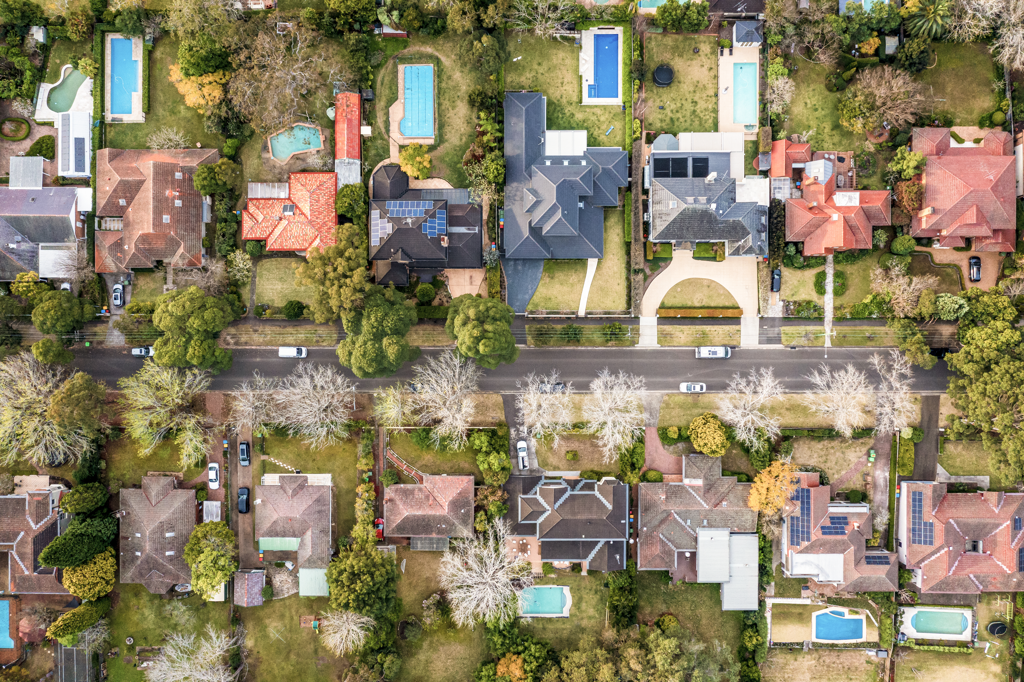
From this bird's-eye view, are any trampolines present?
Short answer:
Yes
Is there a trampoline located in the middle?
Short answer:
No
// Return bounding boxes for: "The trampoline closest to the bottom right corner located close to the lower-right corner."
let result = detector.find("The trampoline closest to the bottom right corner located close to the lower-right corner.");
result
[986,617,1015,642]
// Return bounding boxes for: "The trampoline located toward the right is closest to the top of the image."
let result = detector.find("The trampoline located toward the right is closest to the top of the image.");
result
[654,61,677,87]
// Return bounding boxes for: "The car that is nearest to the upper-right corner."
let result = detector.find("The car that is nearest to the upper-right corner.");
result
[967,256,983,283]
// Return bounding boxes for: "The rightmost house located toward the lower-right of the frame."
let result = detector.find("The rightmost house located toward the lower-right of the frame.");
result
[894,479,1024,594]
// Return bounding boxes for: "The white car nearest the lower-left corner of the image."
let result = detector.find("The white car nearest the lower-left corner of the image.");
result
[207,463,221,489]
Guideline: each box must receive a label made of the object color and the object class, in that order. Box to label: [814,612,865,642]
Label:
blue swimming pool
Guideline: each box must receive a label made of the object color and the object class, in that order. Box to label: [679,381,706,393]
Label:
white vehicle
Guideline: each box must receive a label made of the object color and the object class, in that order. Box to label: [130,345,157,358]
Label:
white vehicle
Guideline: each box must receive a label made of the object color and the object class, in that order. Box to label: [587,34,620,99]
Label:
blue swimming pool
